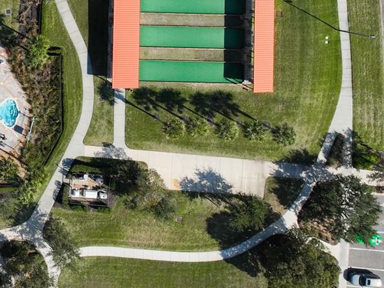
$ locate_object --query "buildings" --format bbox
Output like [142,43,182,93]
[245,0,275,93]
[108,0,140,89]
